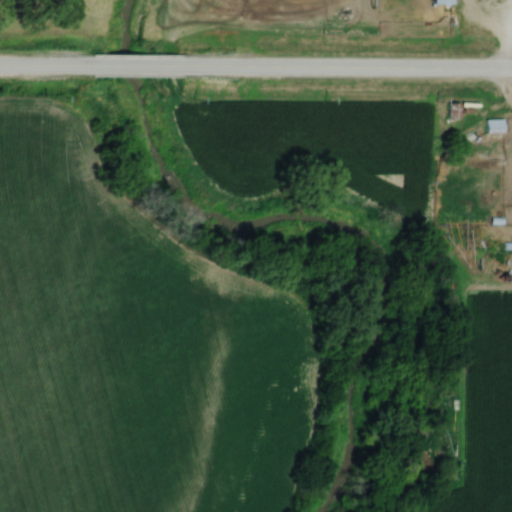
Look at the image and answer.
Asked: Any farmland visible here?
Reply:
Yes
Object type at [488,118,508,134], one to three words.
shed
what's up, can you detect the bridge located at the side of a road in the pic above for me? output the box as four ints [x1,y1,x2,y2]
[96,55,186,78]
